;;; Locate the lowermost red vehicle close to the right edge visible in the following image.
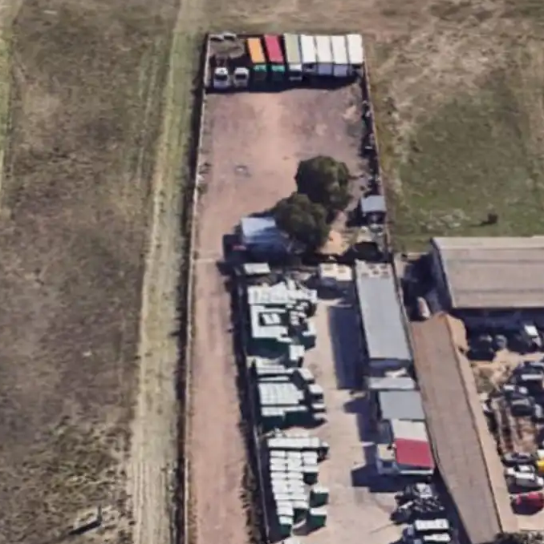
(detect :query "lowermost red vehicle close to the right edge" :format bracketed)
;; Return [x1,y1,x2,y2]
[512,494,544,510]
